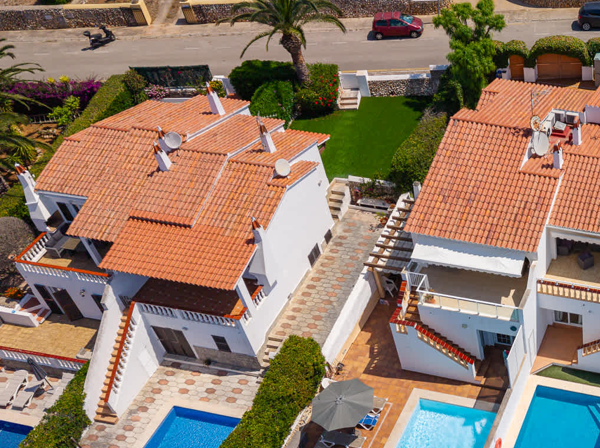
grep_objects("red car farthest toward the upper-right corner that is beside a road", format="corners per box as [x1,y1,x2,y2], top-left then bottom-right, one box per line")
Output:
[371,11,423,41]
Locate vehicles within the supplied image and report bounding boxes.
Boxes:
[81,21,118,42]
[371,11,423,41]
[579,6,600,35]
